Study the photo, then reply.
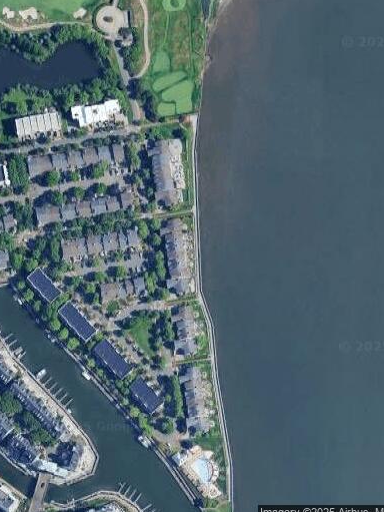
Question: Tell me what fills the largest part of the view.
water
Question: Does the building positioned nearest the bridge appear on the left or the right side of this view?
left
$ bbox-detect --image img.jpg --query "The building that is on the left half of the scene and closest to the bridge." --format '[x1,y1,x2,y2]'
[31,457,68,477]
